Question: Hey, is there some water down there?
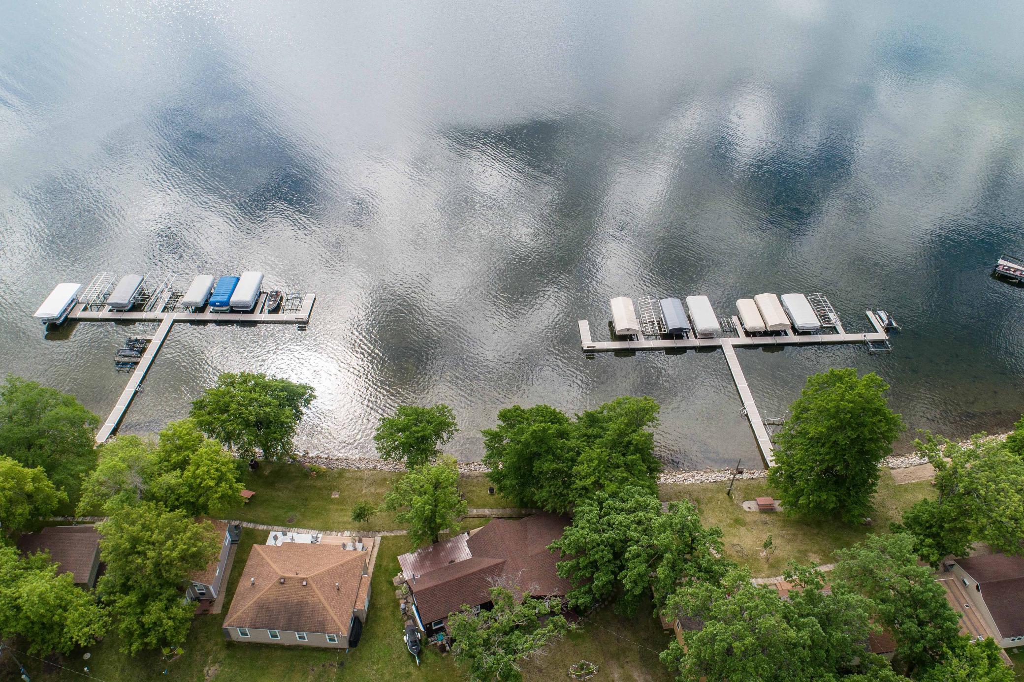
Yes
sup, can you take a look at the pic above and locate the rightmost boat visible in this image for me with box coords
[992,259,1024,281]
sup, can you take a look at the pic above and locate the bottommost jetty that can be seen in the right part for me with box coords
[578,308,889,469]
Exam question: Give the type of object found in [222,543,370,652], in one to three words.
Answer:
house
